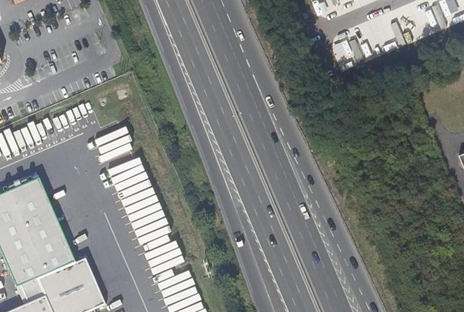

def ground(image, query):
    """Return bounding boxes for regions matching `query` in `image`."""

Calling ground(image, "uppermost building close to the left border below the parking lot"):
[0,172,76,284]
